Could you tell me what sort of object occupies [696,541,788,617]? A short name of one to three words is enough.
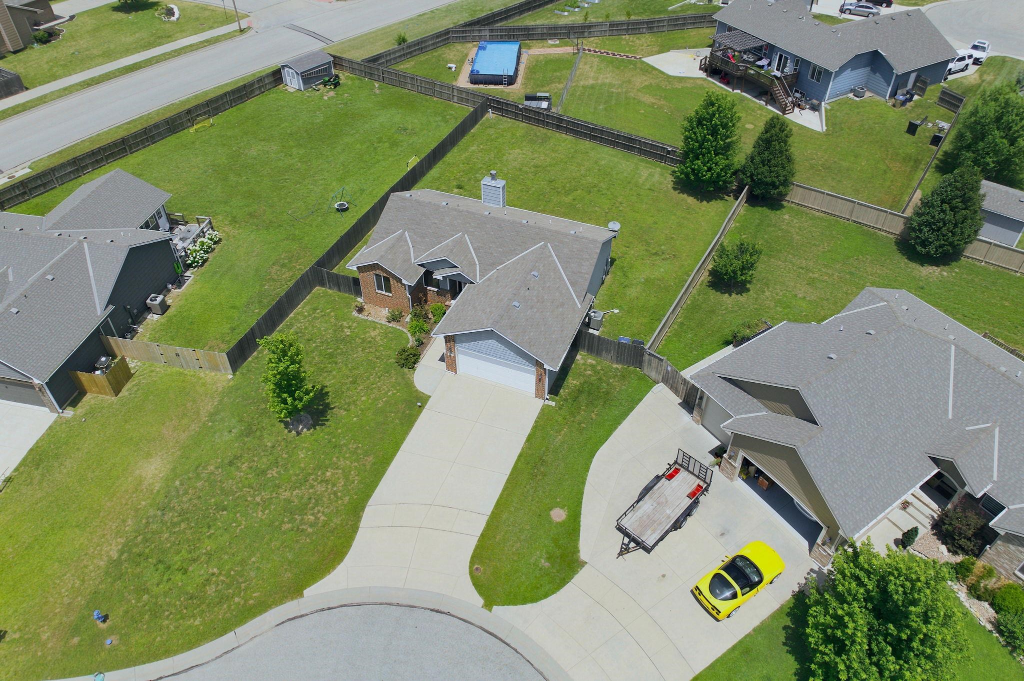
car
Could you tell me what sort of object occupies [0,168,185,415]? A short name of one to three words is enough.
house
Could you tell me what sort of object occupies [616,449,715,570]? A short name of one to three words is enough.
trailer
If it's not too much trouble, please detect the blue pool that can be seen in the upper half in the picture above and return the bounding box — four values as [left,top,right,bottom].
[468,39,522,85]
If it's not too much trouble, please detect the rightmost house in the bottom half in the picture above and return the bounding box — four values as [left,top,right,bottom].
[688,287,1024,598]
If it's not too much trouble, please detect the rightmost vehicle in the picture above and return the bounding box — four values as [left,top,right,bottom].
[948,49,978,75]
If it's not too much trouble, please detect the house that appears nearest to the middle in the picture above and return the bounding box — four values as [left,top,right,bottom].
[345,171,618,404]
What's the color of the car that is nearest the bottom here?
yellow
